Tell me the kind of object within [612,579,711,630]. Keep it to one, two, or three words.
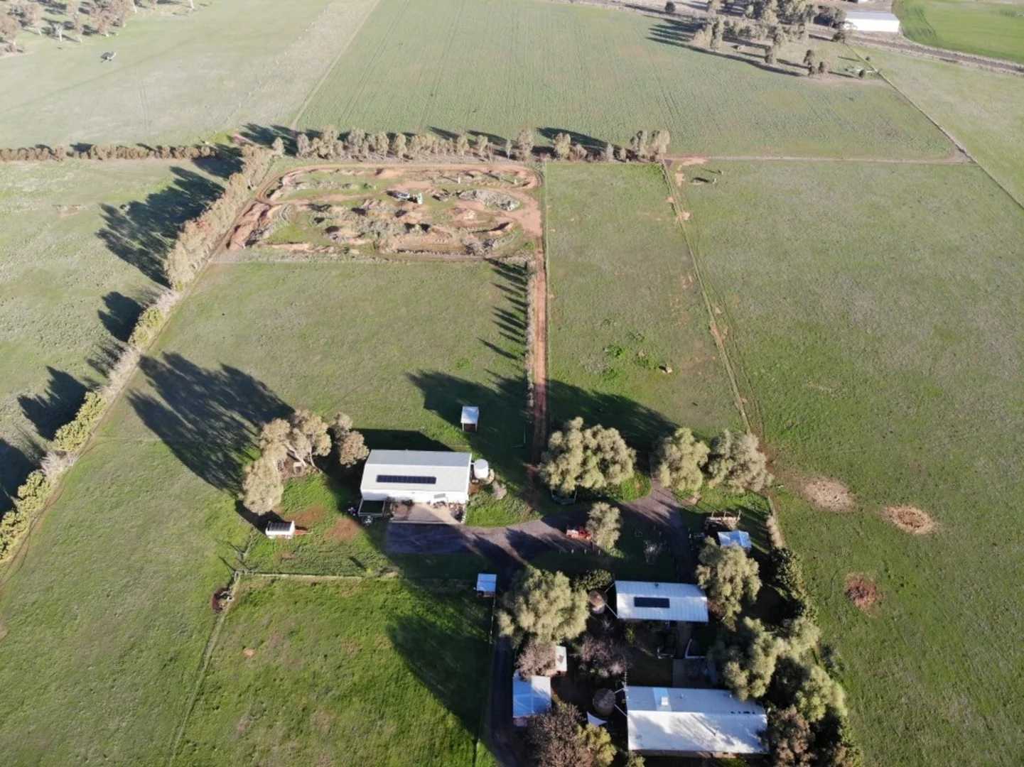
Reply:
house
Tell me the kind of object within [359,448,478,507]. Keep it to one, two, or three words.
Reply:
barn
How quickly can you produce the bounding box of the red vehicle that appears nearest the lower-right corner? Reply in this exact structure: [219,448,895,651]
[562,524,589,541]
